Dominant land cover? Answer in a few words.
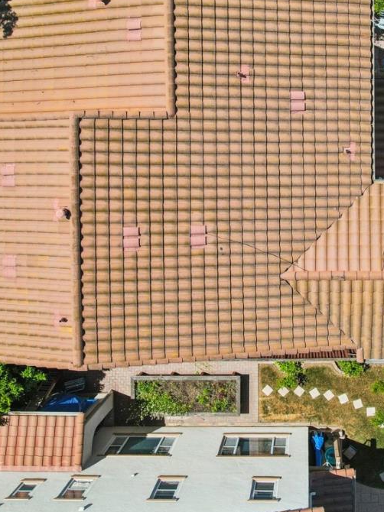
buildings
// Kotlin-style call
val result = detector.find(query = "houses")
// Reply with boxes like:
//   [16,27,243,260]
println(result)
[0,389,357,512]
[0,0,384,372]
